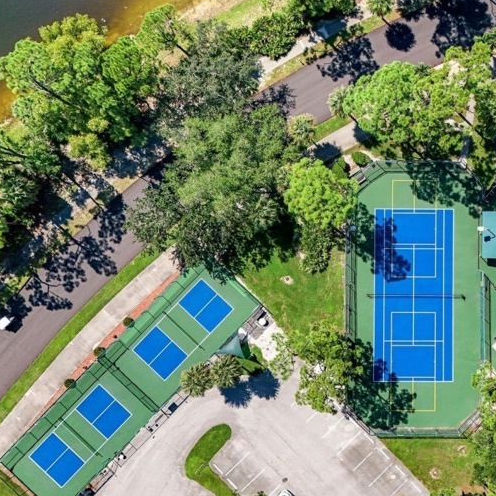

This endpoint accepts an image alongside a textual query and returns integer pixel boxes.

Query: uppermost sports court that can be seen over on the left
[104,253,259,409]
